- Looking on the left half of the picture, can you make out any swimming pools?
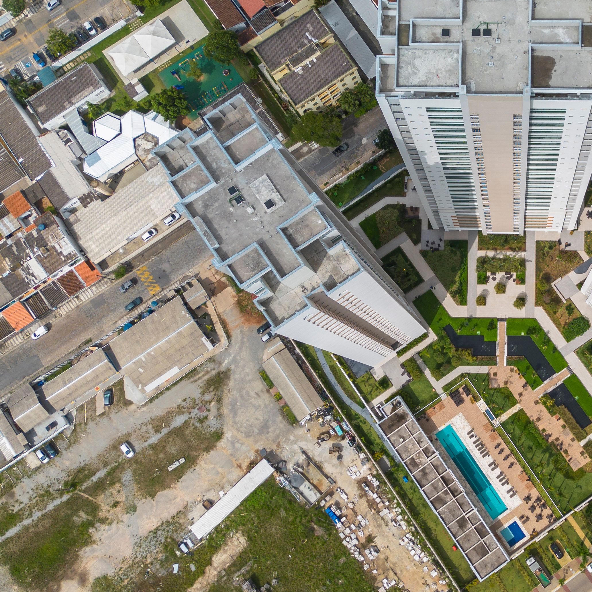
No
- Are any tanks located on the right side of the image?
No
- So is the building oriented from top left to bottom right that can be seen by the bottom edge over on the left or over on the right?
right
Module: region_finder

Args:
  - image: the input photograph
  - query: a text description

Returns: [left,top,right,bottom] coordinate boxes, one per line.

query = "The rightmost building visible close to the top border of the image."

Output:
[375,0,592,235]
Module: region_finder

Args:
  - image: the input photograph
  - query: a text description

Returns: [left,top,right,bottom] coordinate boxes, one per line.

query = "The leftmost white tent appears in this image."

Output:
[109,36,153,79]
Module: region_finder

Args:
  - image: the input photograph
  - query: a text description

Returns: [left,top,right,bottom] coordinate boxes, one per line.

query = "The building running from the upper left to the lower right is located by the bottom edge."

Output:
[376,395,510,581]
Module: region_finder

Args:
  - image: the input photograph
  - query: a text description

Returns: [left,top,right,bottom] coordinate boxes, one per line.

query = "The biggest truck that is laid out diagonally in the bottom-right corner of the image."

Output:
[526,555,552,589]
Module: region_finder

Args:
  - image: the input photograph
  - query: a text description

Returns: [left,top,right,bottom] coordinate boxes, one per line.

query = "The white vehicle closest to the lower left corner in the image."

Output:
[36,449,49,464]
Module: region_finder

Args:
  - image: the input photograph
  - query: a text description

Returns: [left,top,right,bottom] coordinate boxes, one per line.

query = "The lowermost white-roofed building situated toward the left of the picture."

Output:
[184,458,278,539]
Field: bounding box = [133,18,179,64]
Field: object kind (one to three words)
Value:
tent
